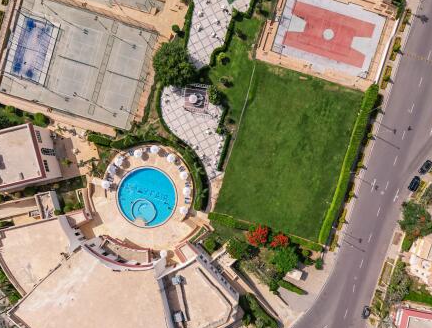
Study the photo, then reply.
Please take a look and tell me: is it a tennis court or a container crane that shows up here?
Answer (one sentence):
The image shows a tennis court.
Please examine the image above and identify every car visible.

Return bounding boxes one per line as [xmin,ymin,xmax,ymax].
[418,159,432,175]
[362,306,370,319]
[408,176,420,192]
